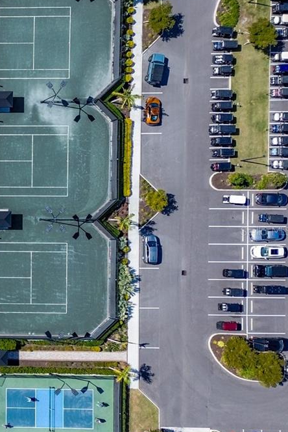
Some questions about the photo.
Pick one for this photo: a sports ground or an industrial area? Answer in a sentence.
The picture captures a sports ground.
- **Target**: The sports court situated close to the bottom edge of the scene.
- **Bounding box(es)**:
[0,378,115,432]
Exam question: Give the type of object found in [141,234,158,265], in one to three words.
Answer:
car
